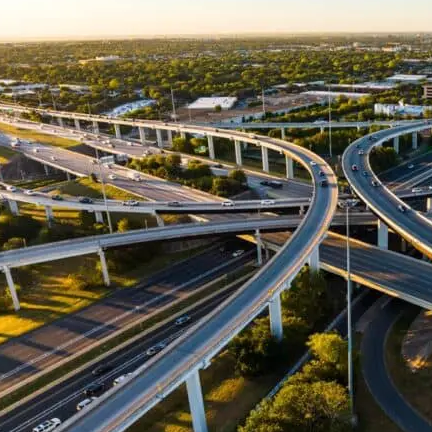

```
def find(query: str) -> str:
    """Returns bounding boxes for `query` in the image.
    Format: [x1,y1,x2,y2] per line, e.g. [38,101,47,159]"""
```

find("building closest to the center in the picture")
[184,94,242,111]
